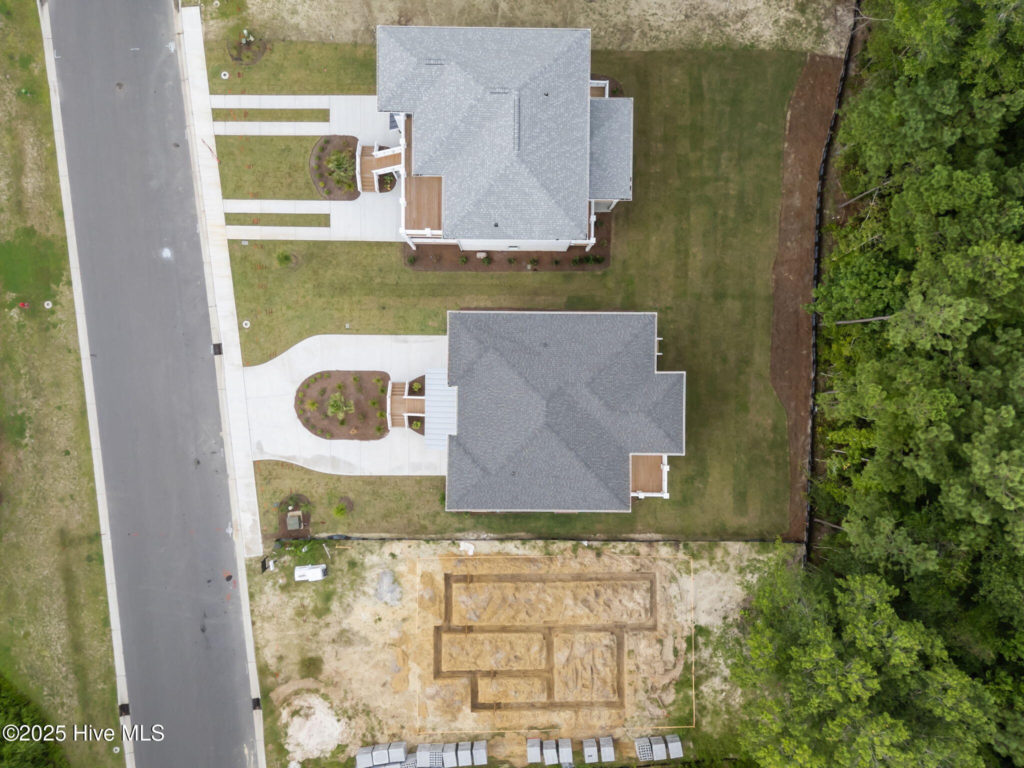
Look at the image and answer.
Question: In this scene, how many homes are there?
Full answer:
The picture shows 2 homes.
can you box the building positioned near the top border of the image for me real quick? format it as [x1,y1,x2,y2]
[357,26,633,253]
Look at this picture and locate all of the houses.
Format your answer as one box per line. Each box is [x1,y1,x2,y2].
[387,311,685,512]
[357,26,633,253]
